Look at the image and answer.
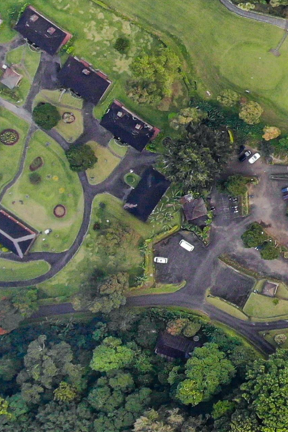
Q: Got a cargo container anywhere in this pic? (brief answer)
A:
No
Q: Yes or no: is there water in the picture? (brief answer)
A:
No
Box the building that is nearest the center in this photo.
[124,167,173,222]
